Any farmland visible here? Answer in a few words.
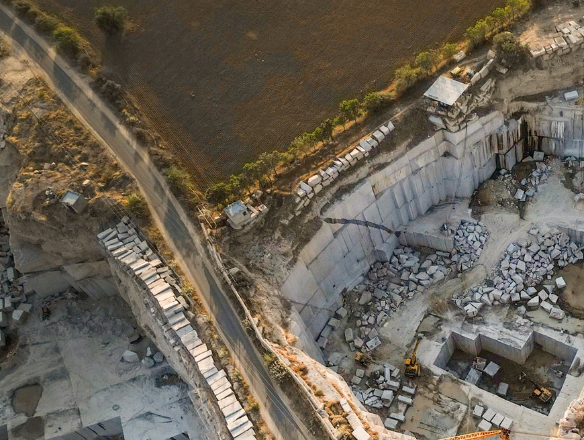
Yes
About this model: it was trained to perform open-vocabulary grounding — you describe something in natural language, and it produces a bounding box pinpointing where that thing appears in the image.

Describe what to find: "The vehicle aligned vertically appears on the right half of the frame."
[403,338,425,380]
